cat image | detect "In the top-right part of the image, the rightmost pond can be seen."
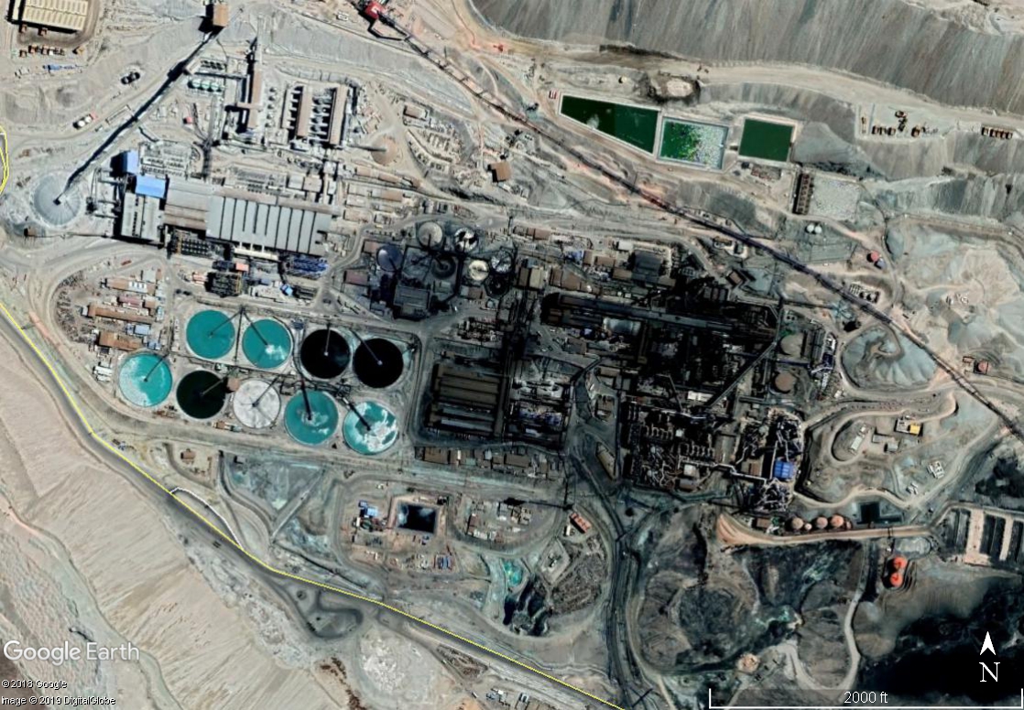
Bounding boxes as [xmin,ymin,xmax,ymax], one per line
[737,118,796,163]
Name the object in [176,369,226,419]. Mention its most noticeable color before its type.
black storage tank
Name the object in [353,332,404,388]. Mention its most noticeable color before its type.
black storage tank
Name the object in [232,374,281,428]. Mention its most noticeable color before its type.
white storage tank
